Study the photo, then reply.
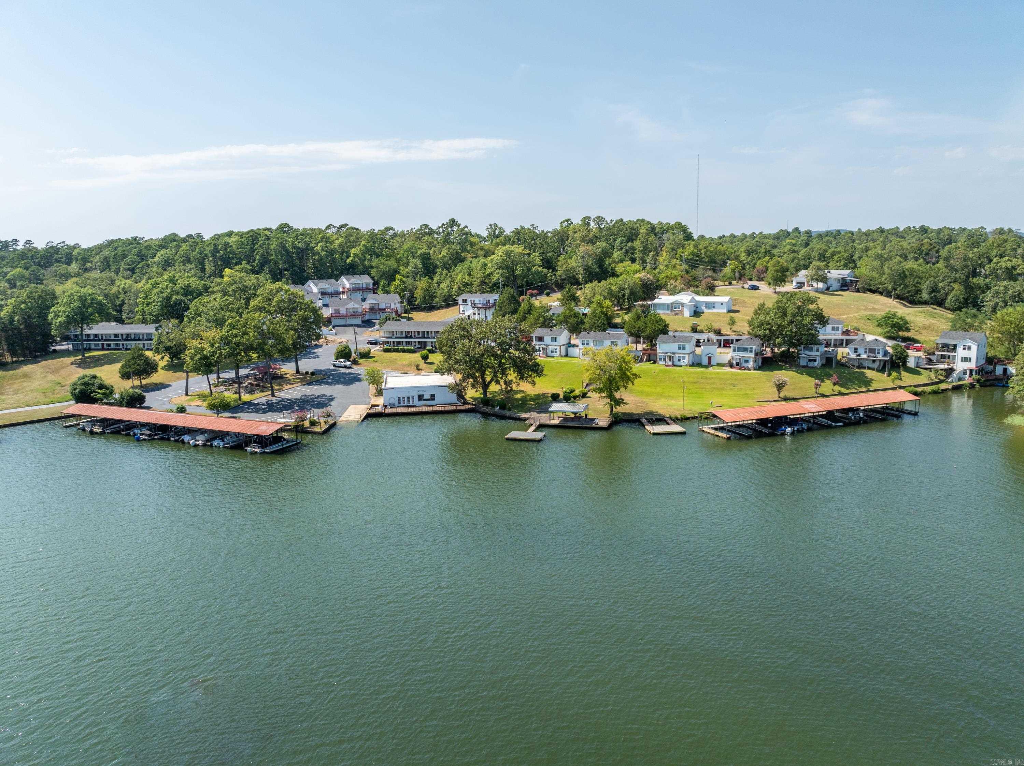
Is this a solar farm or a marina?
marina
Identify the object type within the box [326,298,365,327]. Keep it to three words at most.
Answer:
house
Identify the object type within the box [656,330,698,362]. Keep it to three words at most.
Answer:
house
